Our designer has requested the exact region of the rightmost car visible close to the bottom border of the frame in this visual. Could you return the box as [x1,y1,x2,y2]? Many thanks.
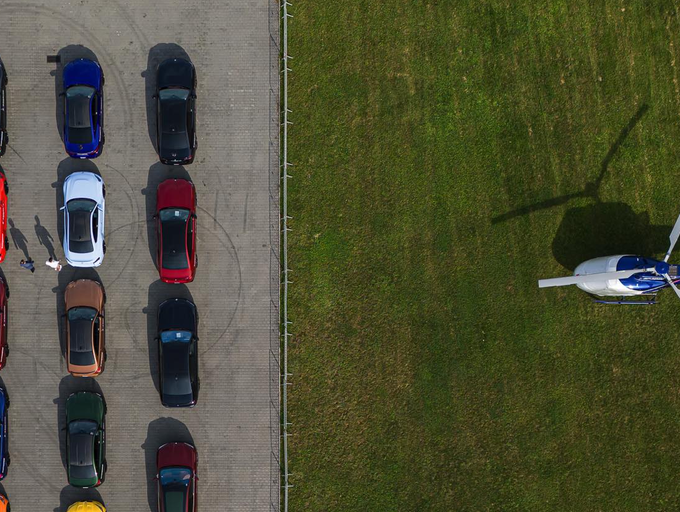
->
[152,442,201,512]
